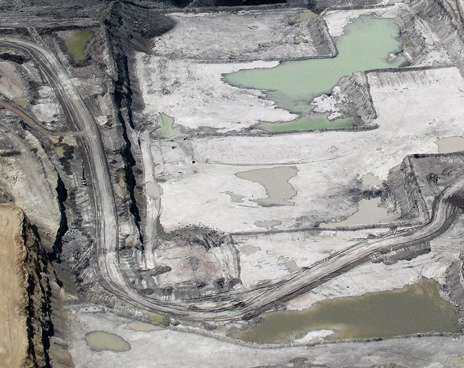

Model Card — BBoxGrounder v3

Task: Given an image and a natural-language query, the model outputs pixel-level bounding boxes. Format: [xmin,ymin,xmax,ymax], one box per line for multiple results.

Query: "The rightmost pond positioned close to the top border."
[221,14,404,108]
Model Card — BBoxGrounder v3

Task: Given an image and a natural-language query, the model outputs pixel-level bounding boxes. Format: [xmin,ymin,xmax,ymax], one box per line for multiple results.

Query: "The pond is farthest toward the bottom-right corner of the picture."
[242,279,460,343]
